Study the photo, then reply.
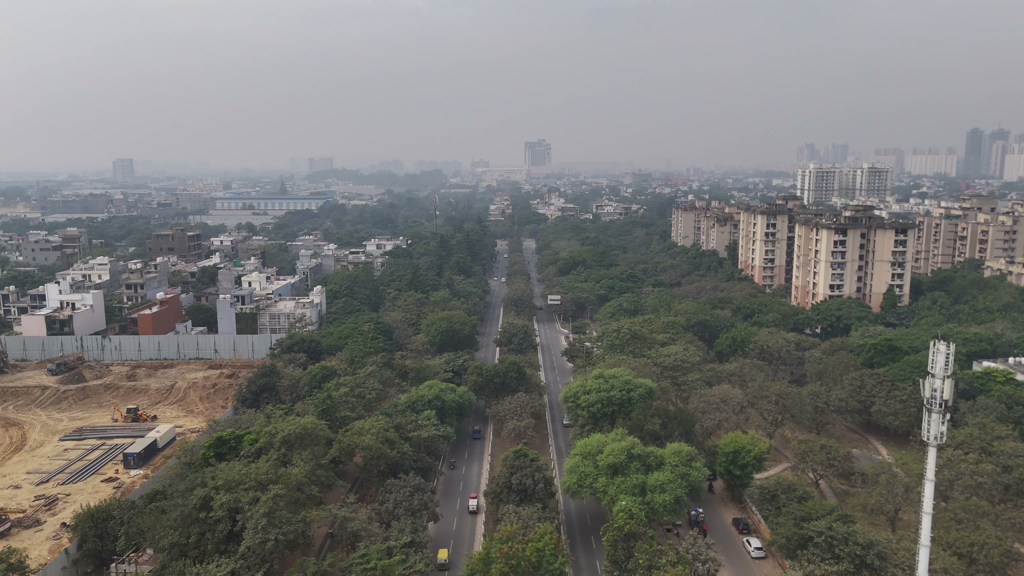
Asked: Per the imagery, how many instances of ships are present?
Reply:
0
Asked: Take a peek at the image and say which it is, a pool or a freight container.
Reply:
freight container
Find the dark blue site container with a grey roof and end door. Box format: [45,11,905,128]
[120,437,157,468]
